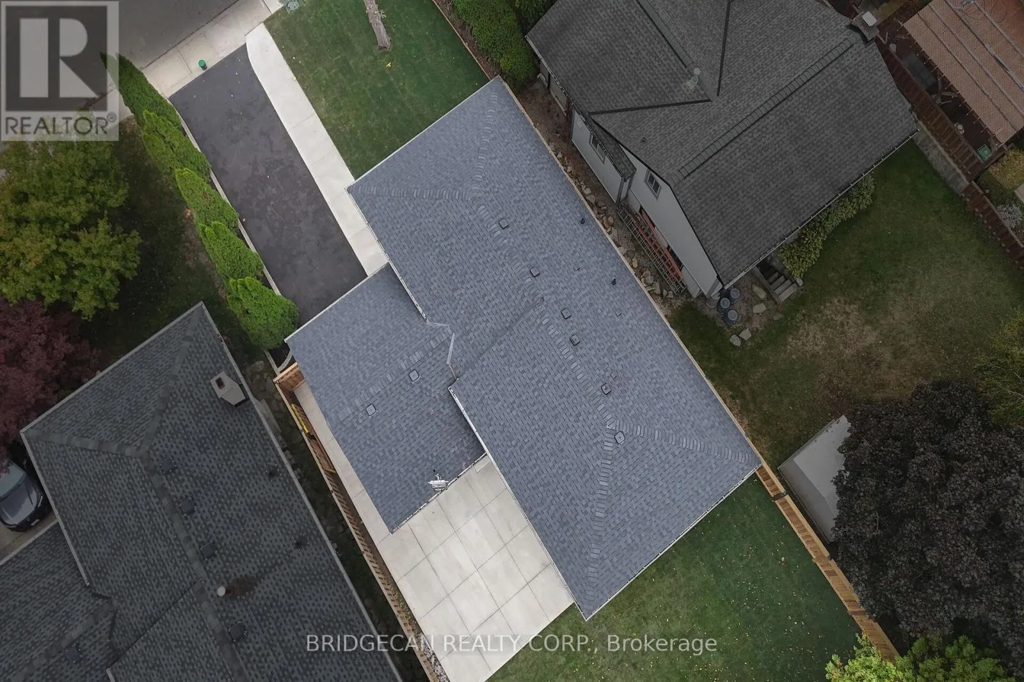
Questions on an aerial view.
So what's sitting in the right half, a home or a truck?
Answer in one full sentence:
The one visible in the right half is a home.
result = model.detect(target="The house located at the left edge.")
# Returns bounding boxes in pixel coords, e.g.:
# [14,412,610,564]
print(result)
[0,301,403,682]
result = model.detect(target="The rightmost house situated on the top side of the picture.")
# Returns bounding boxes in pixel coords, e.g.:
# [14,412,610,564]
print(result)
[524,0,920,299]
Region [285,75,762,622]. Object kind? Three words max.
house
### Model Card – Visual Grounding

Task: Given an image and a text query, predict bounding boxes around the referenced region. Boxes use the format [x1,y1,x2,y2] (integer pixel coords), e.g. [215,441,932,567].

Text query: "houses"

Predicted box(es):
[285,75,762,622]
[524,0,920,299]
[0,301,403,682]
